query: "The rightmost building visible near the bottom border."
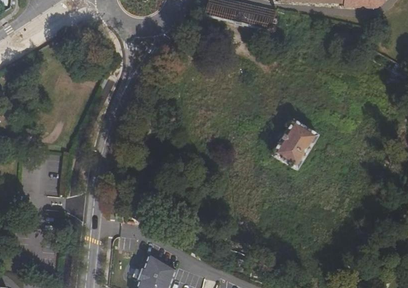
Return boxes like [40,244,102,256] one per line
[137,256,178,288]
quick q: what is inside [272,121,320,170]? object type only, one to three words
house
